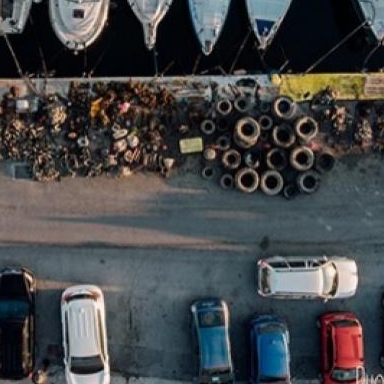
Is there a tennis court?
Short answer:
No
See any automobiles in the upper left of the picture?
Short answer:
No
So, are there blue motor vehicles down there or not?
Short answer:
Yes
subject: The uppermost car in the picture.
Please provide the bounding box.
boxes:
[253,251,357,304]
